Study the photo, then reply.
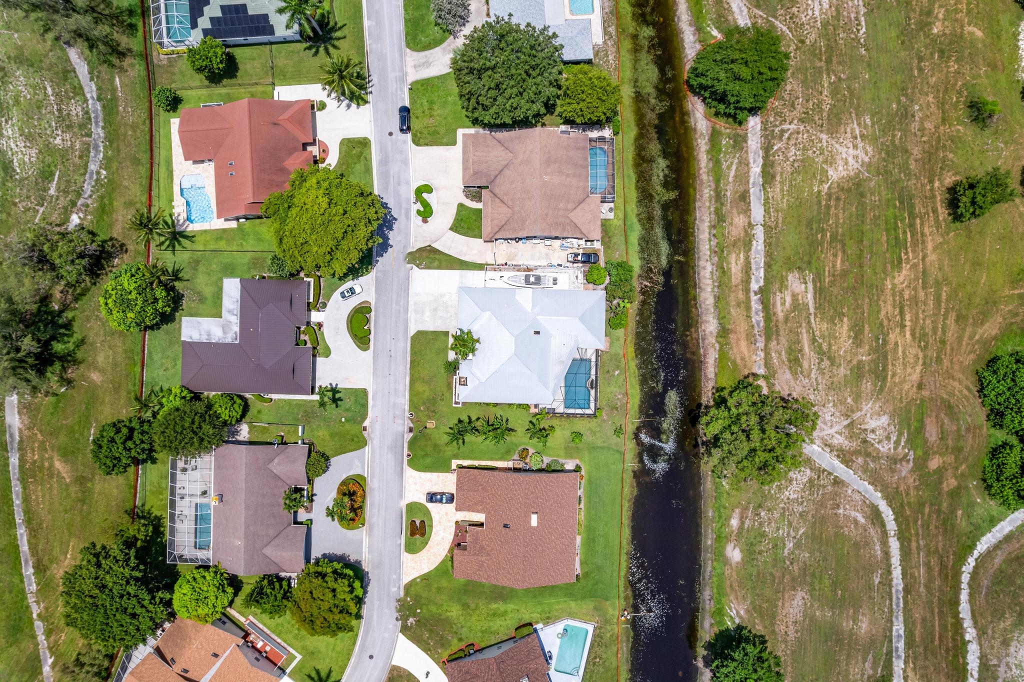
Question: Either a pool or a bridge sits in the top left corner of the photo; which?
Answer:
pool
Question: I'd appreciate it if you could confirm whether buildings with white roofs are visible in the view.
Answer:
Yes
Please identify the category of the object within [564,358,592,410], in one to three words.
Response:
swimming pool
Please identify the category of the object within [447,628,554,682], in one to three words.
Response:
house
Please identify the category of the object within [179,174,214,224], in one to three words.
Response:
swimming pool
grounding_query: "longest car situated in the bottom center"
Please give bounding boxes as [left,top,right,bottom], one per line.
[426,491,454,505]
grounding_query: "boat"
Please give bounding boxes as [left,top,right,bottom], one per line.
[486,272,562,289]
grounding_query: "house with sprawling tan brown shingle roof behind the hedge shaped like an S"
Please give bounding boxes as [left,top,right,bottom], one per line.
[462,128,601,241]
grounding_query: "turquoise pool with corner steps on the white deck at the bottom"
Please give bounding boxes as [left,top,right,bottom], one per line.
[552,622,590,677]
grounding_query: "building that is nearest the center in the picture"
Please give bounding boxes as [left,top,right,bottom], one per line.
[457,286,606,404]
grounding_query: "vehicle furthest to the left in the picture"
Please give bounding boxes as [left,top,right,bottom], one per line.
[337,283,365,301]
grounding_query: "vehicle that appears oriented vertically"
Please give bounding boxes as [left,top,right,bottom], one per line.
[397,105,411,134]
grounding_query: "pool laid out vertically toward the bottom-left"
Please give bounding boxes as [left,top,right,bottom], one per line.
[194,502,212,550]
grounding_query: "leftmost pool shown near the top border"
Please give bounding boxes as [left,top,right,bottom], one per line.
[165,0,191,43]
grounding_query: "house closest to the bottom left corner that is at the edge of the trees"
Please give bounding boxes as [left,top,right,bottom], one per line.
[123,611,293,682]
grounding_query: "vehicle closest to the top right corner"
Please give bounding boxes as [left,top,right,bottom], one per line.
[567,251,599,265]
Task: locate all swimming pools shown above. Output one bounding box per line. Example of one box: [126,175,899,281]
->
[165,0,191,43]
[179,174,214,224]
[552,622,590,677]
[194,502,212,550]
[590,145,609,195]
[569,0,595,15]
[564,358,592,410]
